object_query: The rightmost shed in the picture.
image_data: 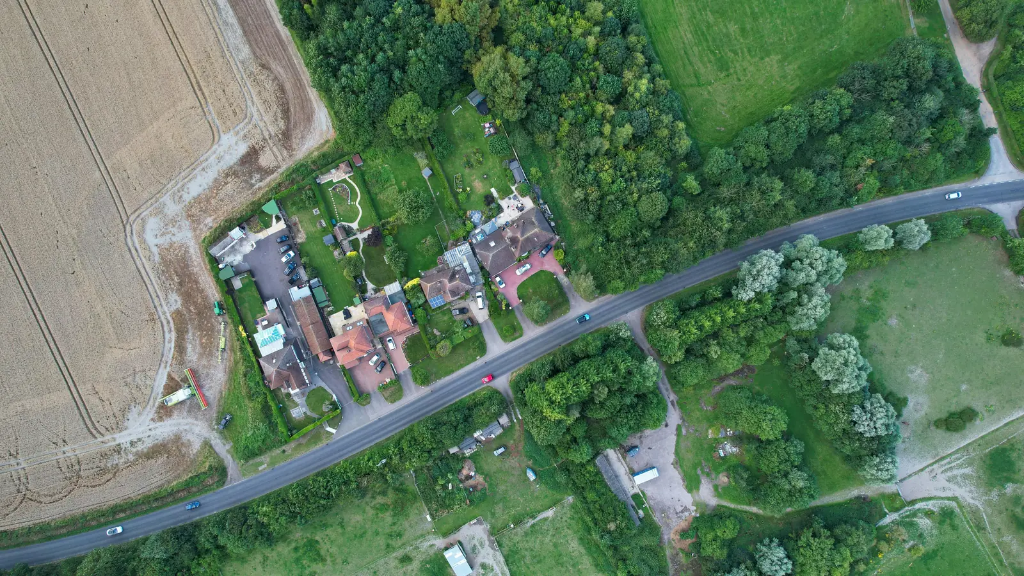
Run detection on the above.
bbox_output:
[596,455,640,525]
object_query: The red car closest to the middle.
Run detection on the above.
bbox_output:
[479,373,496,385]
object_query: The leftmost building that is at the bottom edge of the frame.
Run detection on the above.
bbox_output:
[444,541,472,576]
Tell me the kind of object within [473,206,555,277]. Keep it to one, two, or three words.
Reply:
house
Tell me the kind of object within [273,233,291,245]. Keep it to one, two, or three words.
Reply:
vehicle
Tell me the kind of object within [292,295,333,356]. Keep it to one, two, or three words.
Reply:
barn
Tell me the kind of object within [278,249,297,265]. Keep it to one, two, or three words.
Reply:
vehicle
